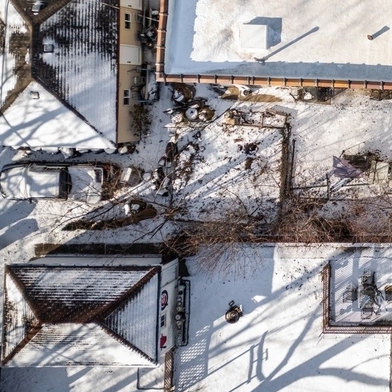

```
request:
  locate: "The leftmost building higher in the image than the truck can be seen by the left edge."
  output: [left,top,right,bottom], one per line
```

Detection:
[0,0,142,150]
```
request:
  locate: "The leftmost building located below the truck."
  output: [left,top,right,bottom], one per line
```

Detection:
[0,253,177,367]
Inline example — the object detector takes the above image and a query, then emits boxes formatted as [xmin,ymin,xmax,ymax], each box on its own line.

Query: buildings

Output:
[157,0,392,92]
[0,253,177,367]
[0,0,142,150]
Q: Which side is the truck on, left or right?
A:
left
